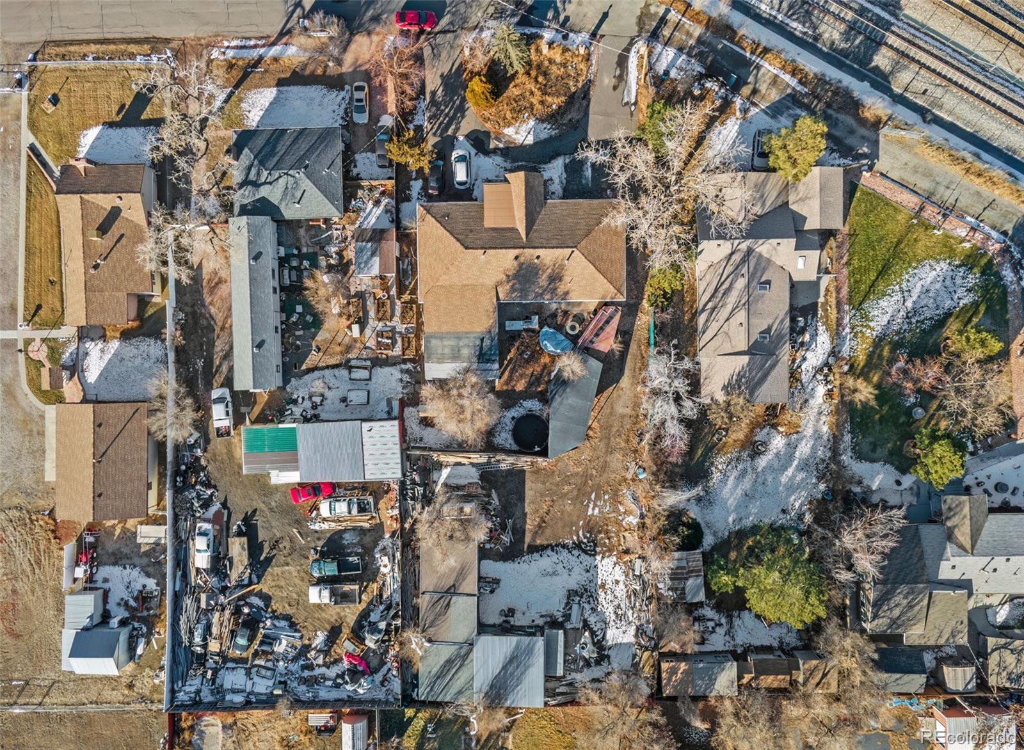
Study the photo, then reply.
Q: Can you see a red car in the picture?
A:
Yes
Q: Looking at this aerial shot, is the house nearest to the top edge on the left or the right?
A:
left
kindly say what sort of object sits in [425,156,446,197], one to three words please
car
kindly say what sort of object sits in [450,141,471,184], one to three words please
car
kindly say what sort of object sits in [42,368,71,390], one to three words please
shed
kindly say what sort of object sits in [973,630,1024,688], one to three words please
building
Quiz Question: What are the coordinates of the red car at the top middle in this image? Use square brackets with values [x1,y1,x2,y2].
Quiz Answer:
[394,6,437,28]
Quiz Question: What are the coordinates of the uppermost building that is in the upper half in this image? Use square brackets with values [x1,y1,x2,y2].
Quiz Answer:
[226,127,344,220]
